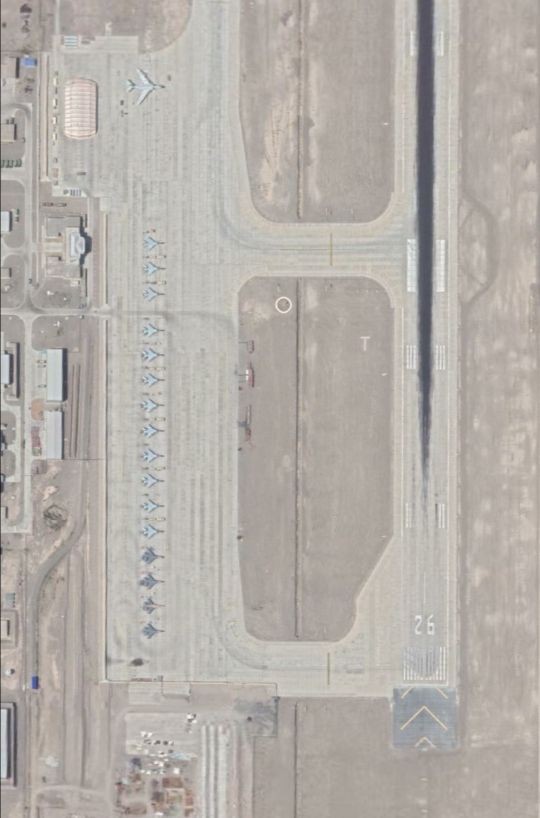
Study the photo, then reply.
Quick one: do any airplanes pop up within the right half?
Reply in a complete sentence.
No, no airplane is visible within the right half.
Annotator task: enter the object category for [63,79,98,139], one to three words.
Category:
hangar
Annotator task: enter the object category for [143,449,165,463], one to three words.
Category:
airplane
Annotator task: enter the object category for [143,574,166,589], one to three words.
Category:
airplane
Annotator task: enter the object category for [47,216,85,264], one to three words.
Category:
building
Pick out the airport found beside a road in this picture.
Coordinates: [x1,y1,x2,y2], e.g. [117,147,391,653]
[52,0,457,748]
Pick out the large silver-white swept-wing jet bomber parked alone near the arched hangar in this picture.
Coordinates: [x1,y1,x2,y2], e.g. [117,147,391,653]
[127,68,165,104]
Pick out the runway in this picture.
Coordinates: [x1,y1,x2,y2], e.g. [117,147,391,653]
[394,0,457,686]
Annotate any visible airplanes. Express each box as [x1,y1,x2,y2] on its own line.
[144,373,165,387]
[143,524,165,538]
[143,624,165,638]
[143,449,165,463]
[143,347,165,362]
[143,236,165,250]
[143,398,165,412]
[143,324,166,338]
[144,474,164,488]
[143,550,164,564]
[143,261,164,276]
[127,68,165,104]
[143,598,165,613]
[143,424,166,439]
[143,574,166,589]
[143,499,165,513]
[143,287,164,301]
